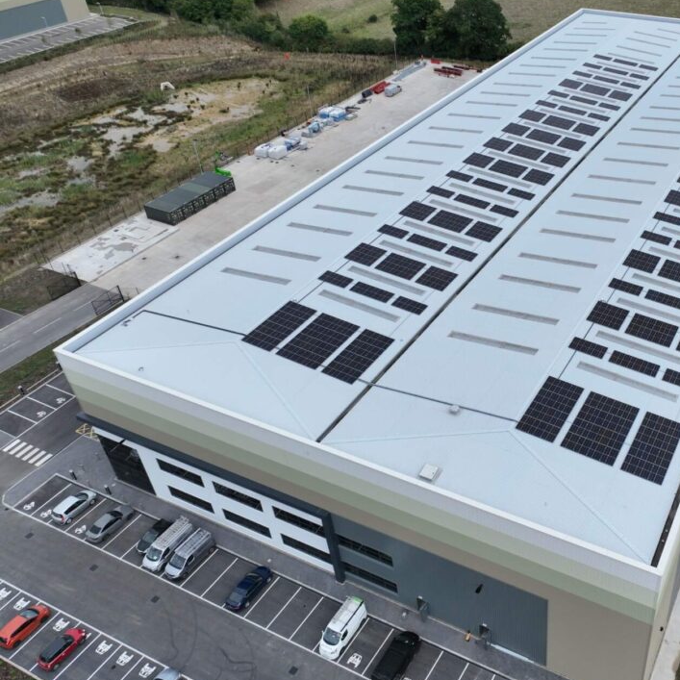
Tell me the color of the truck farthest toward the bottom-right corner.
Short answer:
black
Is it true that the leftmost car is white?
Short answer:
No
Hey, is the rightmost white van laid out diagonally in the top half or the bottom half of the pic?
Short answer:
bottom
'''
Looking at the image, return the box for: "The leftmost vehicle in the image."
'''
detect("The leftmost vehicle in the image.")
[0,601,51,653]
